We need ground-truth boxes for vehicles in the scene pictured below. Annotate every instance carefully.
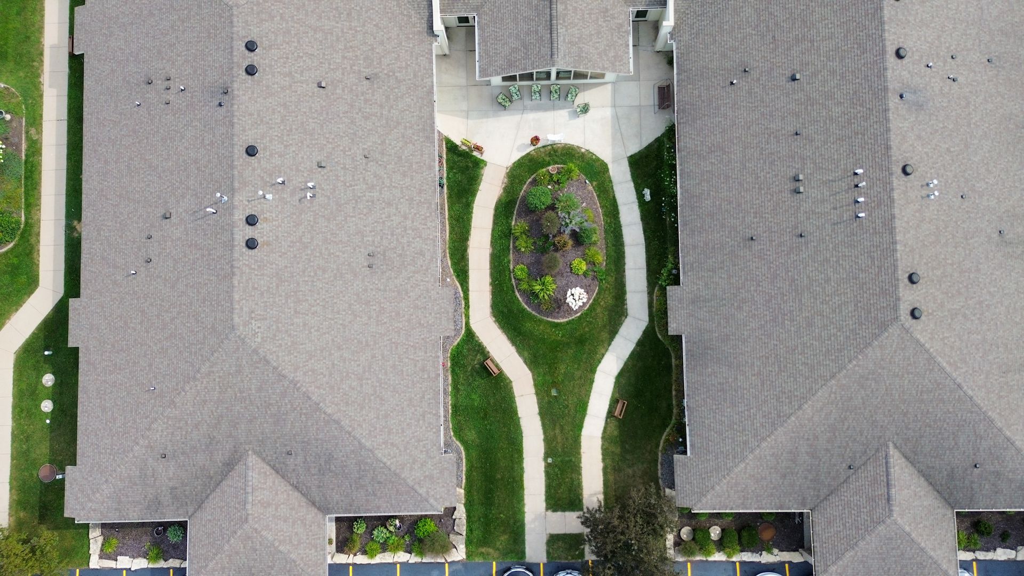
[755,571,782,576]
[552,568,580,576]
[502,564,535,576]
[957,568,975,576]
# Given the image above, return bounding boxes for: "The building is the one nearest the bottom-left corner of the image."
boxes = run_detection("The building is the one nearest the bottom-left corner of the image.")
[65,0,458,576]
